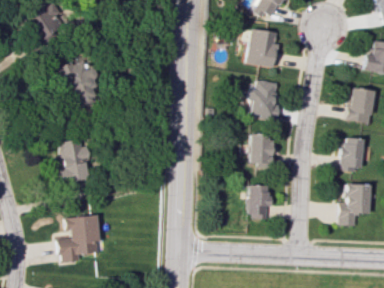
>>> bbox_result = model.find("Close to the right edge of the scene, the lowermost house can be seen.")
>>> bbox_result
[338,184,374,226]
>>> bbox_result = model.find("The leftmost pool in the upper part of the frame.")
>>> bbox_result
[214,49,228,64]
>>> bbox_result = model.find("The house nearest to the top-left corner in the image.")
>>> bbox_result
[35,2,64,44]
